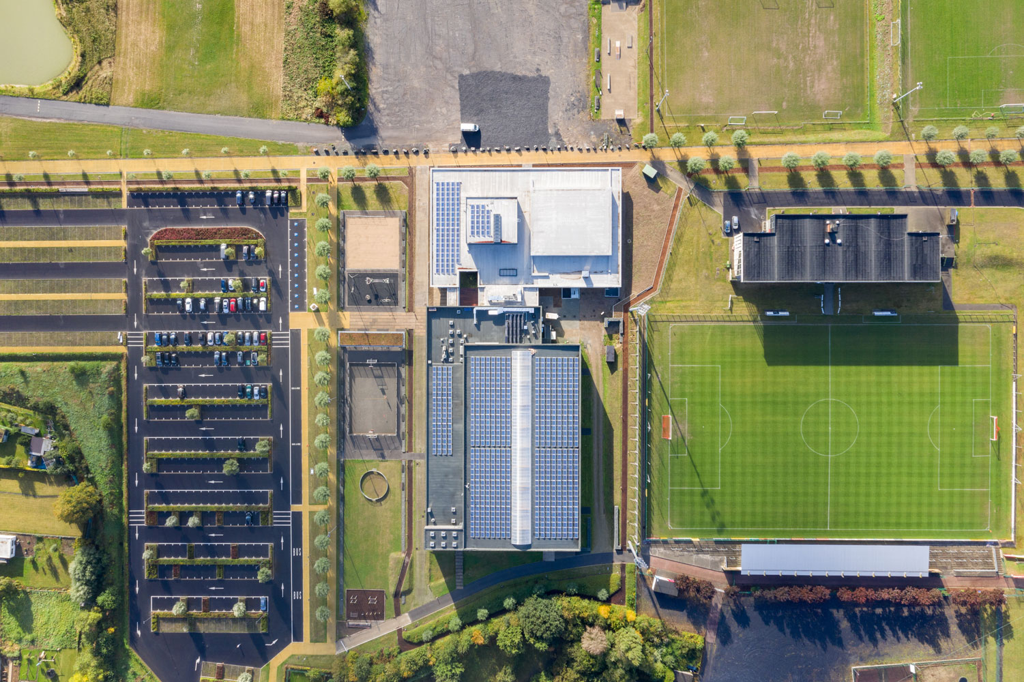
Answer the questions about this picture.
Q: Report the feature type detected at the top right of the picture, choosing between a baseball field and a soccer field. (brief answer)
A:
soccer field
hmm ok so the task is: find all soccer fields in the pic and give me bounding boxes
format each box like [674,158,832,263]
[648,315,1013,541]
[656,0,871,127]
[900,0,1024,120]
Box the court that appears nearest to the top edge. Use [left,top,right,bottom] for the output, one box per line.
[346,216,400,269]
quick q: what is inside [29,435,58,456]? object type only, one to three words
shed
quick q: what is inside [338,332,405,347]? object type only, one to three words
building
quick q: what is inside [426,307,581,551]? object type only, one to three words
building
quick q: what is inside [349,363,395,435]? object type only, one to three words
sports court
